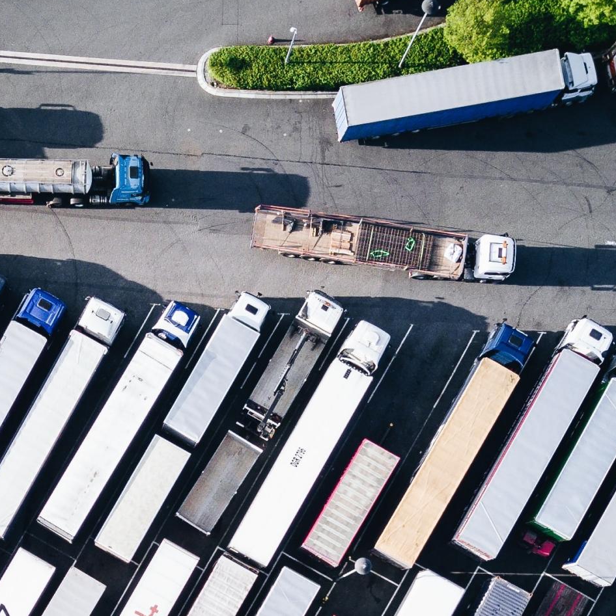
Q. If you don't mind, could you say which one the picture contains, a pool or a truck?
truck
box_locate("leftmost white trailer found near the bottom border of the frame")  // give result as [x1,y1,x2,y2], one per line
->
[0,548,56,616]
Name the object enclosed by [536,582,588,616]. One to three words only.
trailer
